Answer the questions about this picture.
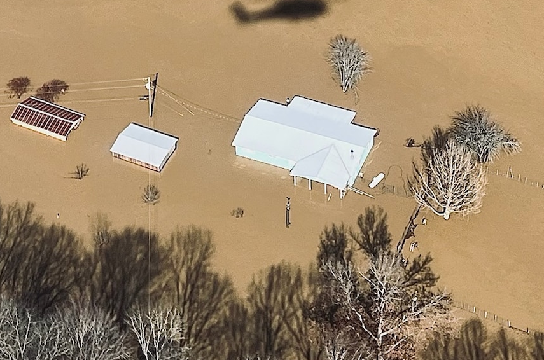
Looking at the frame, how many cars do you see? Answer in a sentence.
The photo contains no cars.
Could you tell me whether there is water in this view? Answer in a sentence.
Yes, water shows up in the scene.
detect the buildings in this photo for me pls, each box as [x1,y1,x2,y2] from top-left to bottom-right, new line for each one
[107,123,181,173]
[8,97,87,141]
[230,95,377,198]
